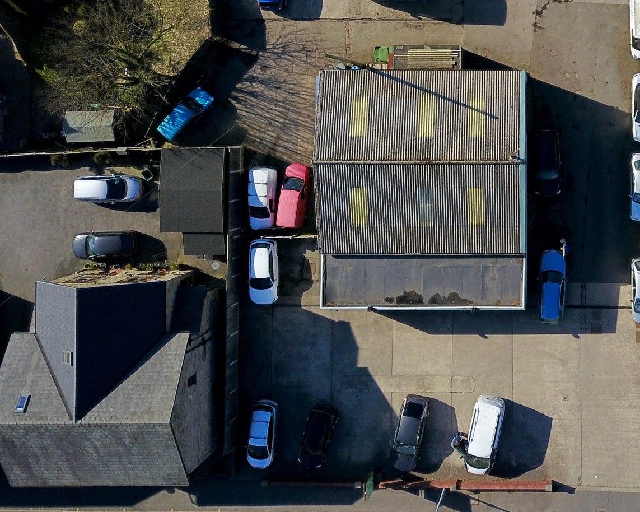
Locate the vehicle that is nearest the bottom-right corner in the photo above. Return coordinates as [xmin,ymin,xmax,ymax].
[452,393,505,474]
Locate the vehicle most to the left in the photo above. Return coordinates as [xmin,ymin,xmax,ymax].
[73,229,138,264]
